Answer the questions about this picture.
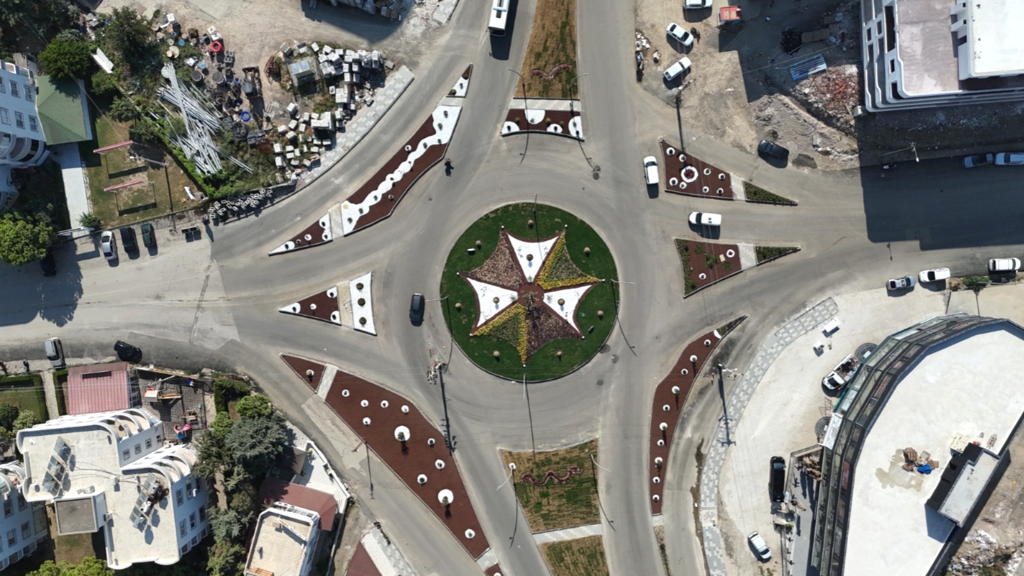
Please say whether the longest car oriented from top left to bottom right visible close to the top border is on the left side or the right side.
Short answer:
right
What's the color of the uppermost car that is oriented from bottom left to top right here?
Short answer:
white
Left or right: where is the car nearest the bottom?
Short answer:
right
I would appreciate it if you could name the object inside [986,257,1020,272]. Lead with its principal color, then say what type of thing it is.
white car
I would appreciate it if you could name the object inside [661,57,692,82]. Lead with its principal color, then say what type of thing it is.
white car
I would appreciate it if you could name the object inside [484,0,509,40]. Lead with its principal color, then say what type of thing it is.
white bus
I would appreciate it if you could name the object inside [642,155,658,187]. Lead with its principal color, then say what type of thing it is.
white vehicle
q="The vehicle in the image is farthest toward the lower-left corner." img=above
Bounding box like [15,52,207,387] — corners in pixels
[45,334,67,367]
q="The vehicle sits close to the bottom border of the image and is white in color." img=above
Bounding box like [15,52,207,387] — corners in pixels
[746,532,771,561]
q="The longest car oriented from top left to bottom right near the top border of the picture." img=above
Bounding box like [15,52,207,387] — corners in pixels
[663,22,695,49]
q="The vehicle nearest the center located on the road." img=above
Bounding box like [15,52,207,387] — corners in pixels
[409,292,425,325]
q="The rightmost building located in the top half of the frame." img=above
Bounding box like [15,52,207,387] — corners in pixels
[856,0,1024,116]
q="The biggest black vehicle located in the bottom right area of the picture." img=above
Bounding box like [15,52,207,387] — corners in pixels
[769,457,787,502]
